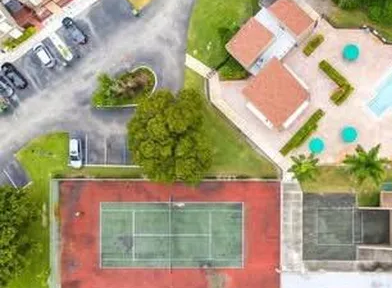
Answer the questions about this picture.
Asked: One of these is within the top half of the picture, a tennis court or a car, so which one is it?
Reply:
car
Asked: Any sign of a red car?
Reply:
No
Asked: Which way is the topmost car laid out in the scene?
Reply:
at an angle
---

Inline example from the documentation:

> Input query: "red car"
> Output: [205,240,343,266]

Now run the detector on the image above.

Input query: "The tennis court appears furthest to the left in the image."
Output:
[99,198,244,273]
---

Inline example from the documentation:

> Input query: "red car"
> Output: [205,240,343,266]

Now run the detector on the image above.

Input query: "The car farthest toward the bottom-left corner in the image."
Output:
[68,138,84,168]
